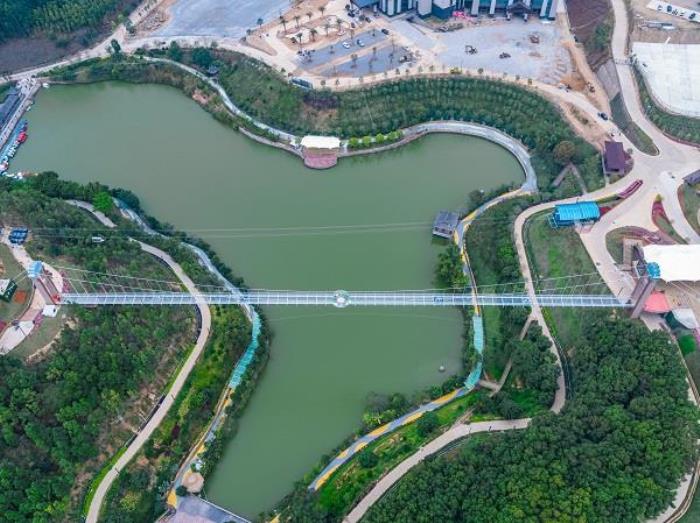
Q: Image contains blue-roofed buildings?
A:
Yes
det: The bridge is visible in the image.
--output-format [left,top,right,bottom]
[12,258,700,312]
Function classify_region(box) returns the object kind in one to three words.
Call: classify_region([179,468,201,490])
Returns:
umbrella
